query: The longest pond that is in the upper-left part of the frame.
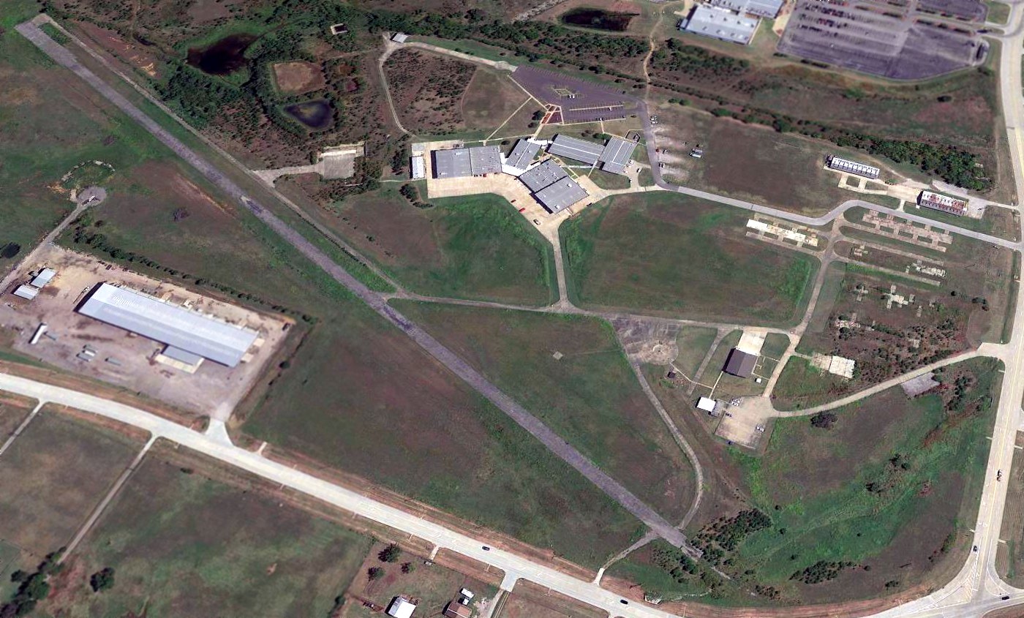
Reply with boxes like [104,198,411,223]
[187,34,257,76]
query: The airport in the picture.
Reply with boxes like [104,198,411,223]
[15,13,792,569]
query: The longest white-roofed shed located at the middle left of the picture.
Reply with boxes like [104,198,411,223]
[79,282,258,370]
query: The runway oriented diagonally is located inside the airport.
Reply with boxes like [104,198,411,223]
[15,22,686,547]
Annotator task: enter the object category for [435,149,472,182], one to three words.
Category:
hangar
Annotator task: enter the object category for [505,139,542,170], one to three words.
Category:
building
